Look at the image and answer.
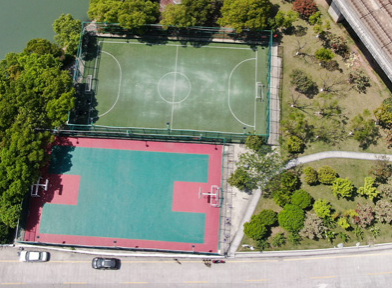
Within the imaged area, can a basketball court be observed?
Yes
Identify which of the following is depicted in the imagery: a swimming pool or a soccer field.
soccer field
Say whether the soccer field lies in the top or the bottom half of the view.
top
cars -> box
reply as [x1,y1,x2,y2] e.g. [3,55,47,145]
[20,249,49,263]
[91,256,119,271]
